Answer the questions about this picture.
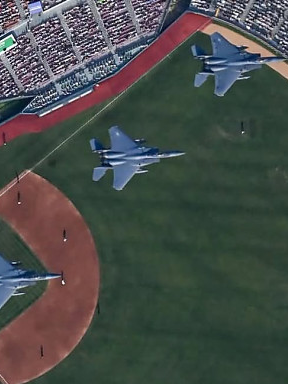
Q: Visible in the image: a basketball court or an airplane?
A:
airplane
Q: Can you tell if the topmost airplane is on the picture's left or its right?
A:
right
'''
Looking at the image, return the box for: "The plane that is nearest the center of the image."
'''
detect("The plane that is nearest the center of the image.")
[90,125,185,189]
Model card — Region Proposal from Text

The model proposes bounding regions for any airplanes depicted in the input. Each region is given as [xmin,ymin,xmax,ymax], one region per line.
[90,125,185,189]
[191,31,286,96]
[0,255,62,307]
